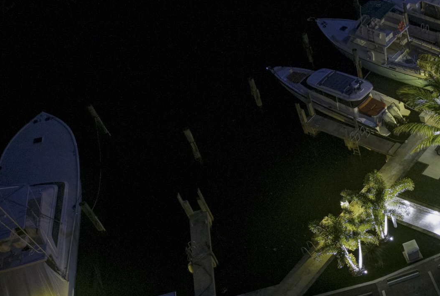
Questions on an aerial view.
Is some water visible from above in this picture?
Yes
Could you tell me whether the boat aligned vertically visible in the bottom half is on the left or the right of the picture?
left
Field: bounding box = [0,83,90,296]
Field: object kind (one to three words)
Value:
boat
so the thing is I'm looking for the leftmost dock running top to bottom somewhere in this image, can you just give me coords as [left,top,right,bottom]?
[189,210,219,296]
